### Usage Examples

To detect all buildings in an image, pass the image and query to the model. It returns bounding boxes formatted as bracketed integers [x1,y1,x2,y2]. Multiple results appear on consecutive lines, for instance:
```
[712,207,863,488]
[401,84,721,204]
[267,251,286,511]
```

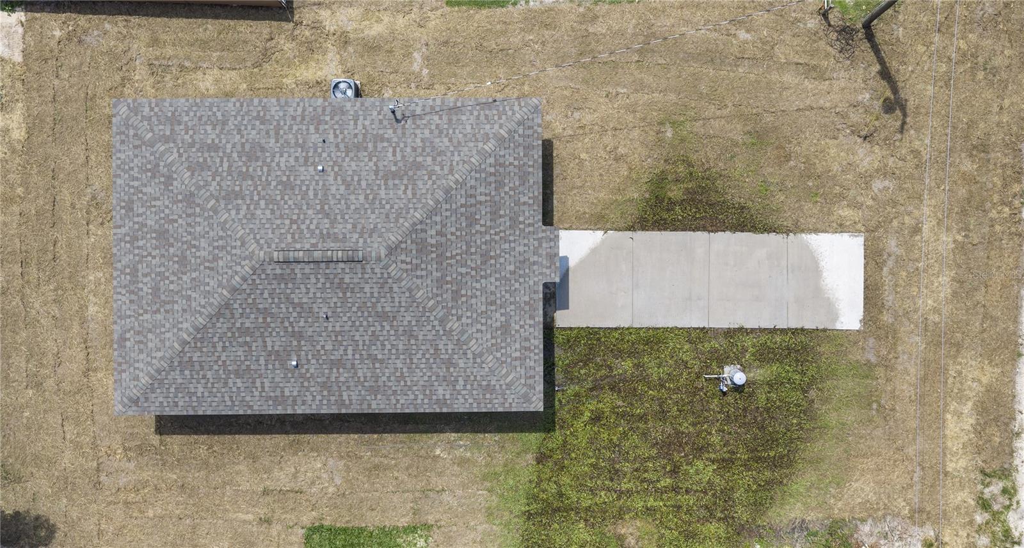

[84,0,292,20]
[112,97,559,415]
